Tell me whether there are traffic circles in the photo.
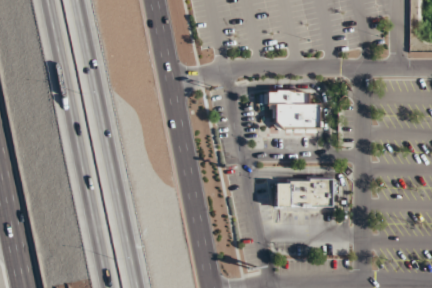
No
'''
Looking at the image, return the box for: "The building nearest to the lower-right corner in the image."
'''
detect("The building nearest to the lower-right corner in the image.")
[278,179,334,209]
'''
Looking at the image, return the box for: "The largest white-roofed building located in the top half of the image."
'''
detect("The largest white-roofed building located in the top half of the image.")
[262,89,322,133]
